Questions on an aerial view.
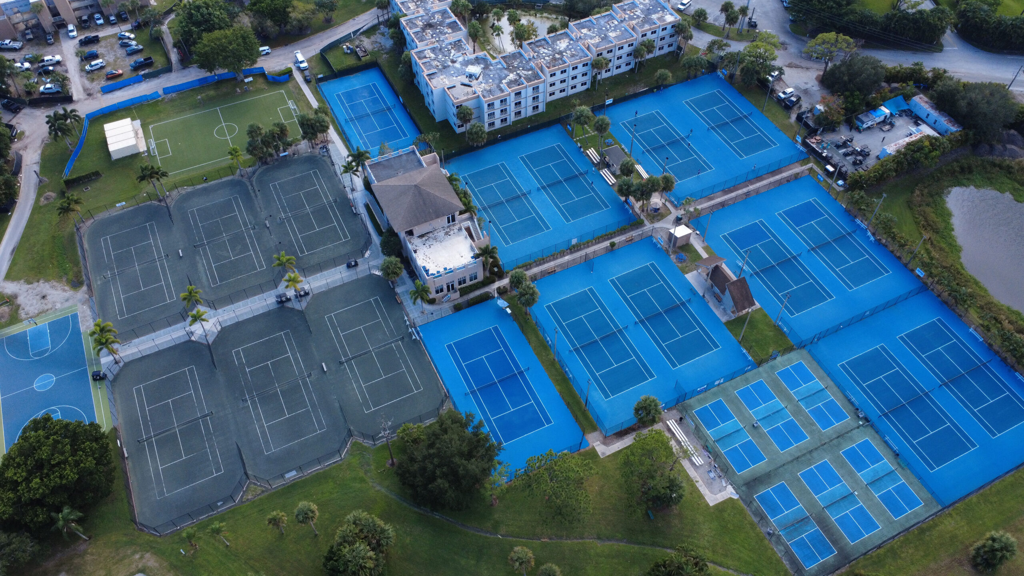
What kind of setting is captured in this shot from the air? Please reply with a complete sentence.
It's a sports ground.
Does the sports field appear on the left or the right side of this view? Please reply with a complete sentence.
The sports field appears in the left half of the scene.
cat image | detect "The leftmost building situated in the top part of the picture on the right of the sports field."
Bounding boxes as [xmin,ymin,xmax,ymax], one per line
[367,148,491,299]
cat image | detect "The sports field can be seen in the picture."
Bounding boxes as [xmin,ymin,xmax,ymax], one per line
[145,83,318,182]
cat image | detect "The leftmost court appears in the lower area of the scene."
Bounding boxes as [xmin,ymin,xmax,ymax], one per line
[0,296,117,467]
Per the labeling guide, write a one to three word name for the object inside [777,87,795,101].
car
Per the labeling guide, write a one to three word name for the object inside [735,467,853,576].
sports court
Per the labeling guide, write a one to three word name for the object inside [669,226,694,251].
shed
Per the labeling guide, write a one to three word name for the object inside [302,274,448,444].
tennis court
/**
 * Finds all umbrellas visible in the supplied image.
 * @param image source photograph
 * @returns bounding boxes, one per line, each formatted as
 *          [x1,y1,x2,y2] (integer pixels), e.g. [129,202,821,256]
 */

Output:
[496,296,512,308]
[651,196,665,206]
